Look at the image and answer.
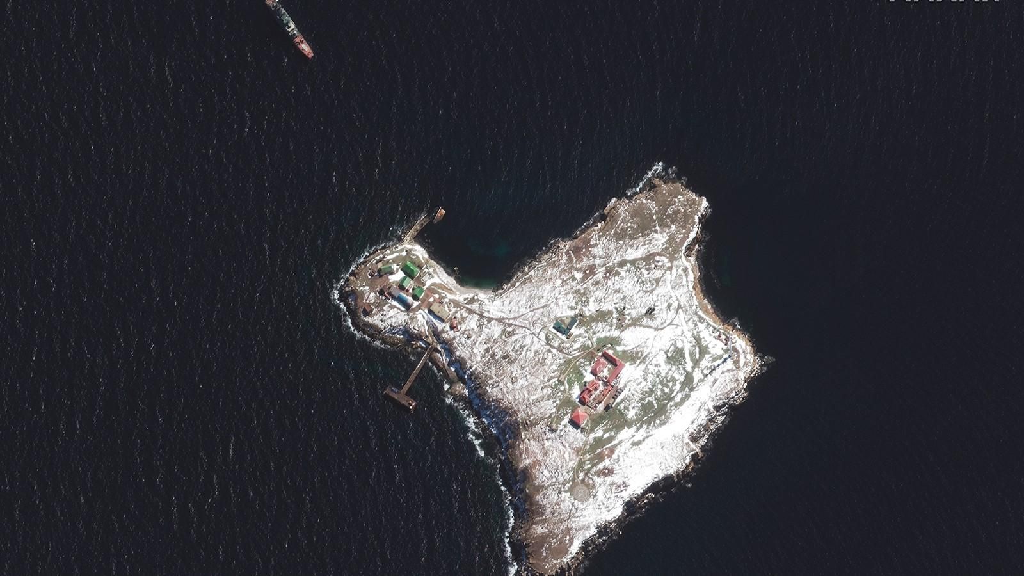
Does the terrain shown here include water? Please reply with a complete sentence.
Yes, water shows up in the scene.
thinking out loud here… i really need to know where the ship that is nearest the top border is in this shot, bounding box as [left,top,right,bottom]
[268,0,313,57]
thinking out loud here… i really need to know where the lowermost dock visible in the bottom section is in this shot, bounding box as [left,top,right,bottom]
[384,345,434,411]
